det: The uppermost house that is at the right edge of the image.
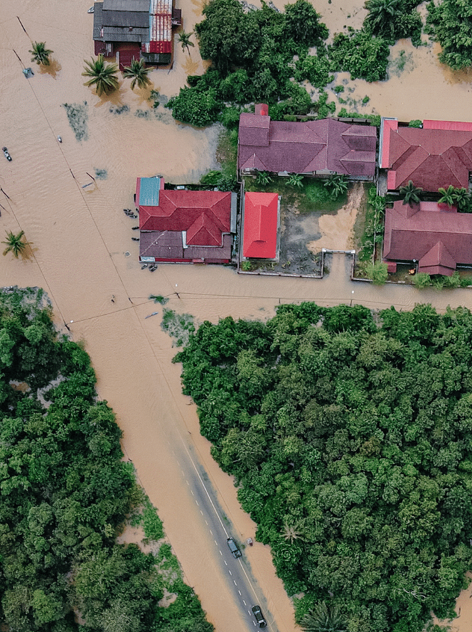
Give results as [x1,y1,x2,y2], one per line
[379,118,472,192]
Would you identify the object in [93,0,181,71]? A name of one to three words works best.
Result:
building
